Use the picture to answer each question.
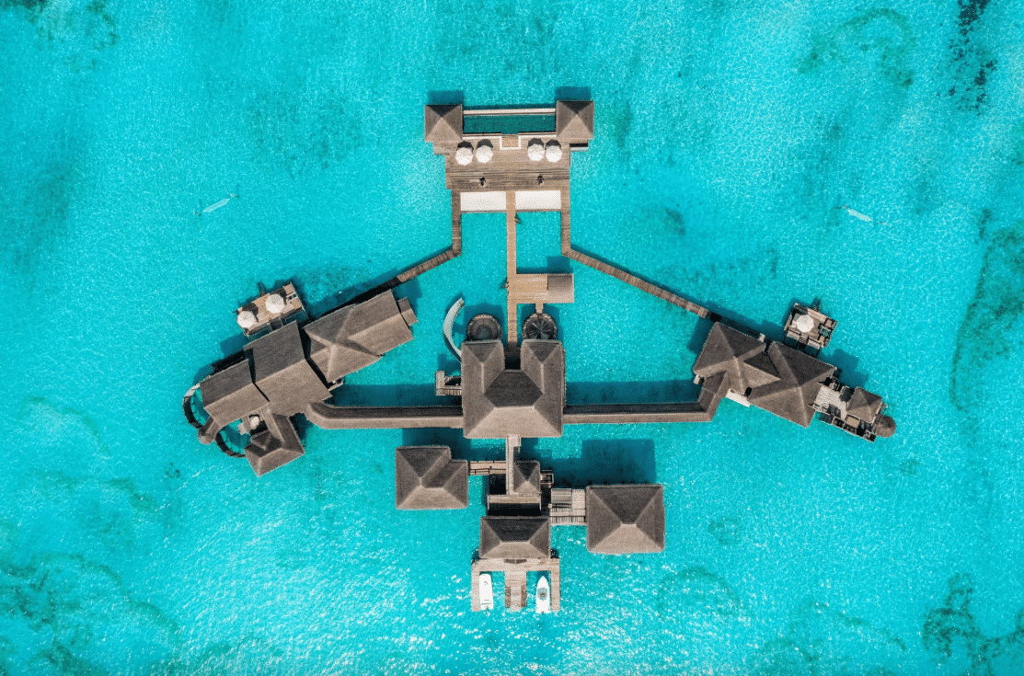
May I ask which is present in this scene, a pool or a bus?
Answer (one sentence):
Of the two, only a pool appears.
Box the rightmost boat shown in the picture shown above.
[537,570,554,617]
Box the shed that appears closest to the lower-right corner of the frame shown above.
[870,416,895,436]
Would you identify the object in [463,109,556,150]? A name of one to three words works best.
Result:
swimming pool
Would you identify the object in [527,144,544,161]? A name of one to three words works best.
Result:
umbrella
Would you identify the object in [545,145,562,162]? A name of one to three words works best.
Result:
umbrella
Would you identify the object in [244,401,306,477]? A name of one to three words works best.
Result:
building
